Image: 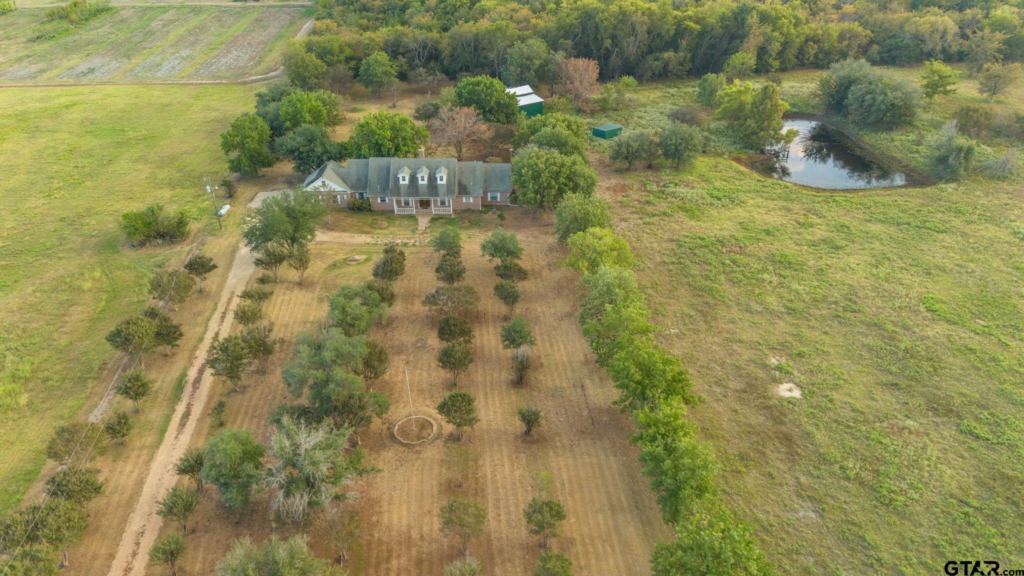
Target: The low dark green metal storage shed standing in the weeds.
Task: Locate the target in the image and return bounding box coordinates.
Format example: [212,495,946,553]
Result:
[593,121,622,139]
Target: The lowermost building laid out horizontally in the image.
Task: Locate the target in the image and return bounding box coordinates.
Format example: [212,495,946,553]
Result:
[298,148,527,215]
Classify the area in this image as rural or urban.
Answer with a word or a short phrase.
rural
